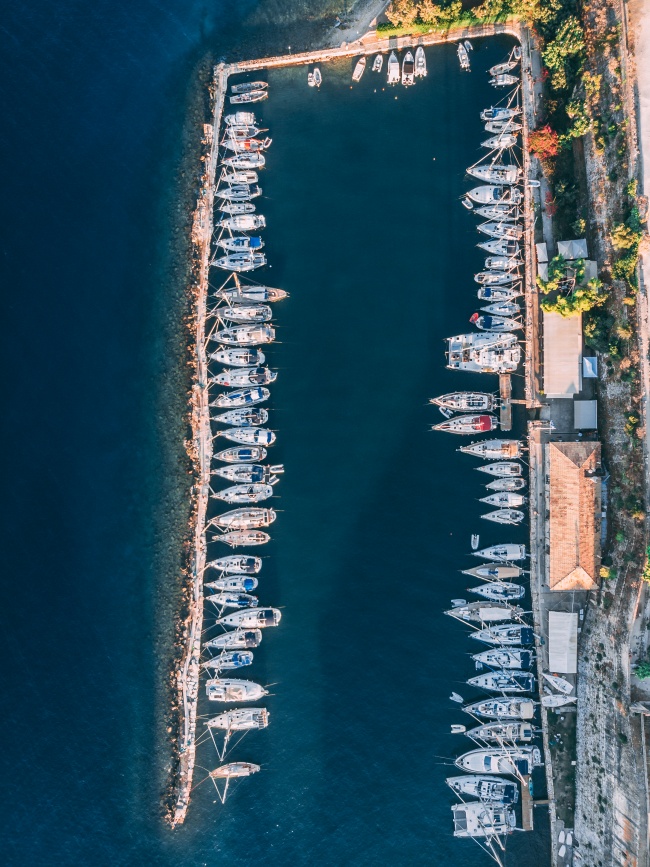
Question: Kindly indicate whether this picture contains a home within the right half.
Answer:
Yes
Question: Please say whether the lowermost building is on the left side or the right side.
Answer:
right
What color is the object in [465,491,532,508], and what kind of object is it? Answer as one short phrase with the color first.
white boat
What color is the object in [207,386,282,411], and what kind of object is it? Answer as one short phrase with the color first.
white boat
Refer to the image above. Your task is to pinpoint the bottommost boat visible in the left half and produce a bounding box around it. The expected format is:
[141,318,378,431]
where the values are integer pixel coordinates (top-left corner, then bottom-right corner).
[190,760,277,809]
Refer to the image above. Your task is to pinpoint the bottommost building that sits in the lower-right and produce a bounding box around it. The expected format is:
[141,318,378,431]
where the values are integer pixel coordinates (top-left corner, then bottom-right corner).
[545,609,577,673]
